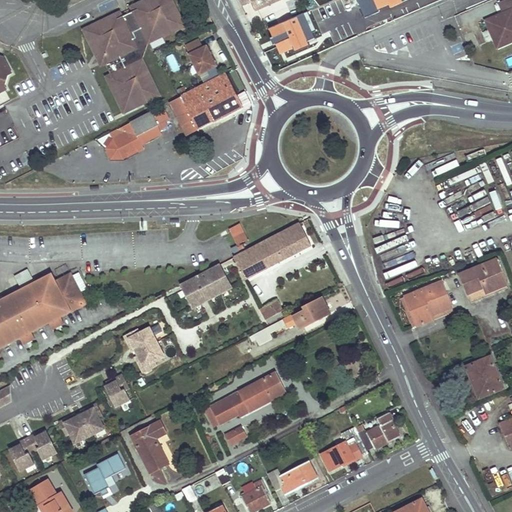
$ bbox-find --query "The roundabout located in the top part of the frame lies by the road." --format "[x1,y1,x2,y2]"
[141,21,430,256]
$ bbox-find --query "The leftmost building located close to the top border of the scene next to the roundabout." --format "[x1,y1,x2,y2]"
[82,0,184,114]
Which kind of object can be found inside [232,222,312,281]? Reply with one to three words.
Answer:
house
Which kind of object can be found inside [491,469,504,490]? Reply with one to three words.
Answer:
vehicle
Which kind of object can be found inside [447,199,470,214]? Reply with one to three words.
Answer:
vehicle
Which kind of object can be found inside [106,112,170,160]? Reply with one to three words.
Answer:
building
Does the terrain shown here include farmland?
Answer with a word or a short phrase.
No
